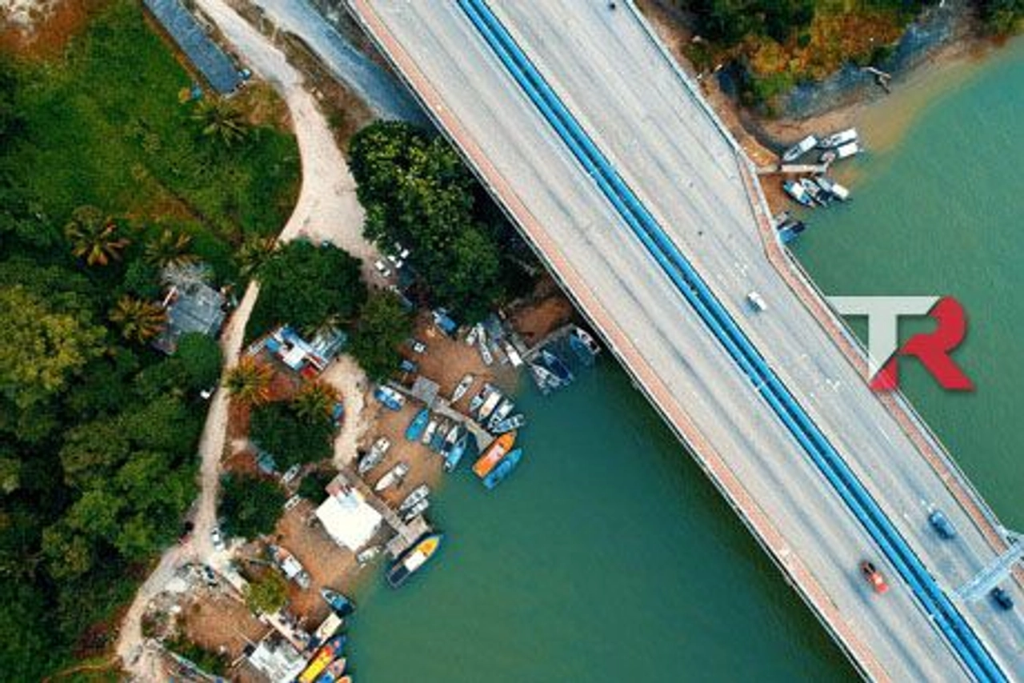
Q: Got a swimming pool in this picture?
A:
No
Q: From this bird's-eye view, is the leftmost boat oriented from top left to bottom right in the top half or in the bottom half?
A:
bottom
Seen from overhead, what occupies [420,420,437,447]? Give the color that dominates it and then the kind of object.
white boat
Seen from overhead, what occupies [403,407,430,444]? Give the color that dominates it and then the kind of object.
blue boat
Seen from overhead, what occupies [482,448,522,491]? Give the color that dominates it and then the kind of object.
blue boat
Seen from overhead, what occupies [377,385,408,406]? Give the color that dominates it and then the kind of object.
white boat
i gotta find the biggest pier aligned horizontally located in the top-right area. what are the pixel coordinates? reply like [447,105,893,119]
[756,156,833,175]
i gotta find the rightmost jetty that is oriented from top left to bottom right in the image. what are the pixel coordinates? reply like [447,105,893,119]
[390,376,497,453]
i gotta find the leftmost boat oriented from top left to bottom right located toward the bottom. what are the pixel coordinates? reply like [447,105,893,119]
[268,543,316,595]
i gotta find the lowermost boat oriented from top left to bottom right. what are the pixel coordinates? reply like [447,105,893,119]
[321,588,360,620]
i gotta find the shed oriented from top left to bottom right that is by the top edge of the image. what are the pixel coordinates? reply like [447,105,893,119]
[145,0,247,97]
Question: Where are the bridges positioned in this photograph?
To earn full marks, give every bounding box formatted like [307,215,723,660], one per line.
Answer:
[338,0,1024,683]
